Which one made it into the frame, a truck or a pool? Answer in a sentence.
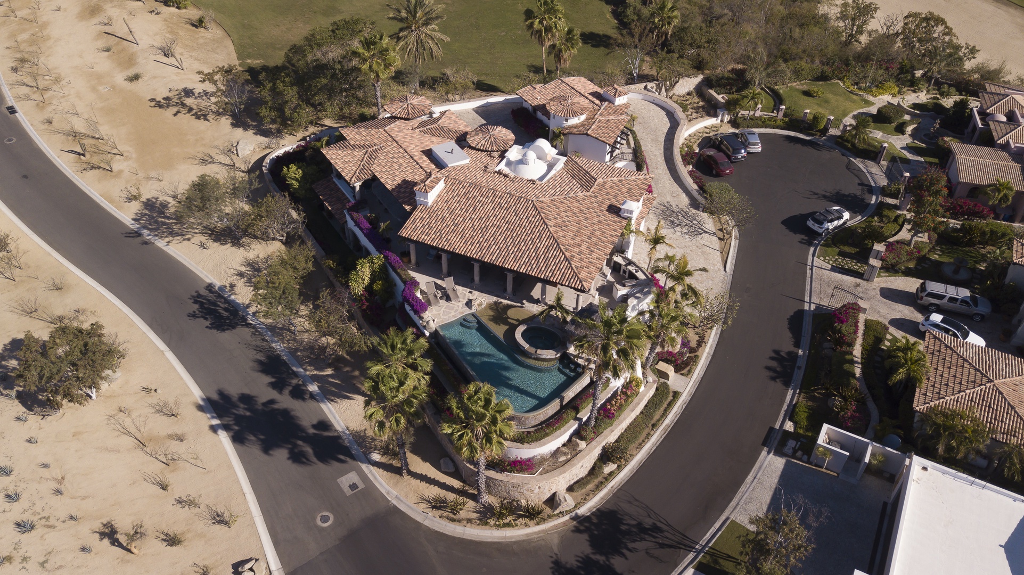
Looking from above, you can make out a pool.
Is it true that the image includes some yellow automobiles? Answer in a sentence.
No, there is no yellow automobile in the image.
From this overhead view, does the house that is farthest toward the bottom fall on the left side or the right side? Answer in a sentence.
It is on the right.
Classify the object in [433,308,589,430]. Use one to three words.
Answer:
swimming pool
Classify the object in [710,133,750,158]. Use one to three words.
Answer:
car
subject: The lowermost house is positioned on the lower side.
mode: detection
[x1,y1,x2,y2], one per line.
[879,454,1024,575]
